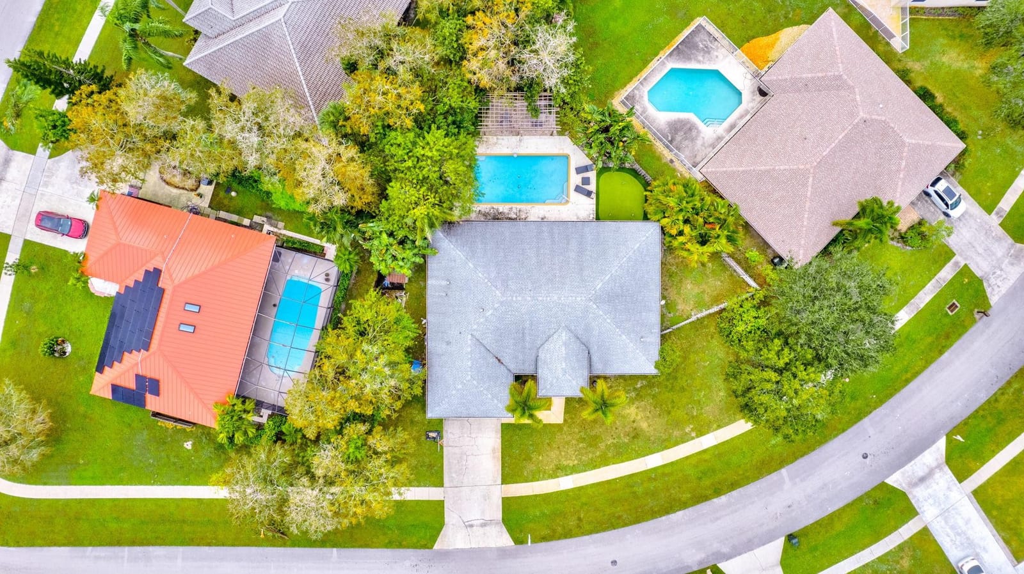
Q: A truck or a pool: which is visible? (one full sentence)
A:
Of the two, only a pool appears.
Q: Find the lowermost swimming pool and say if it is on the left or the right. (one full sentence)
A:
You can find the lowermost swimming pool on the left side of the picture.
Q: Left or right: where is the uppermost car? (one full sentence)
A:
The uppermost car appears in the right half of the scene.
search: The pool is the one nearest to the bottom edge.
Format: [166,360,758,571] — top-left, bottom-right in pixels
[267,278,322,377]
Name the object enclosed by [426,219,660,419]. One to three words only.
house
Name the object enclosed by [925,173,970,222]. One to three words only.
car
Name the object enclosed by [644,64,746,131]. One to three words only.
swimming pool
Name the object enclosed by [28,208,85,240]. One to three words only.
car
